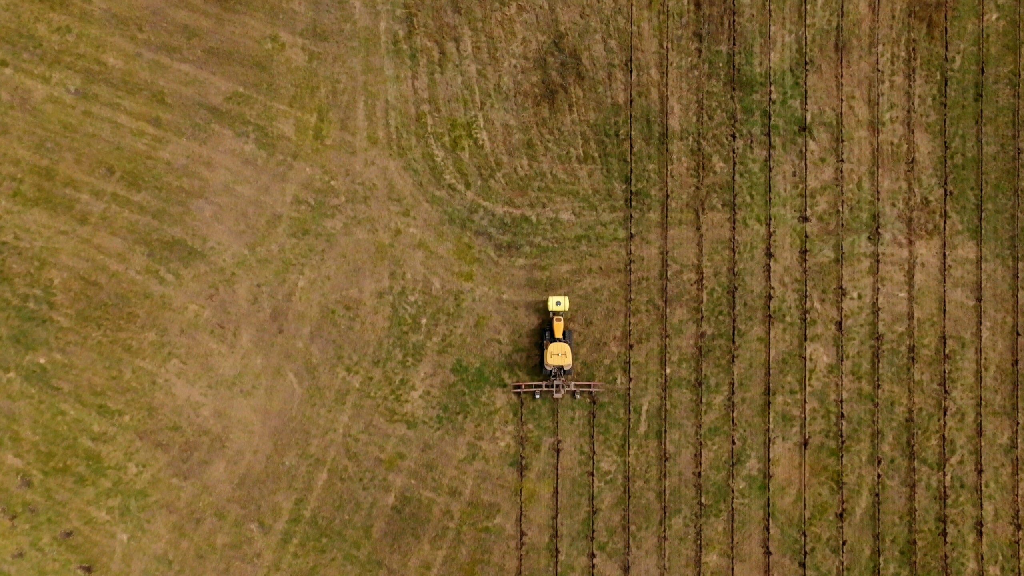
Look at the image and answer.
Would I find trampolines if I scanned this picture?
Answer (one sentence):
No, I can see no trampoline in this picture.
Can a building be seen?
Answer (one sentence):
No, there appears to be no building in this shot.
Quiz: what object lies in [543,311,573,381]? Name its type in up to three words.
work vehicle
